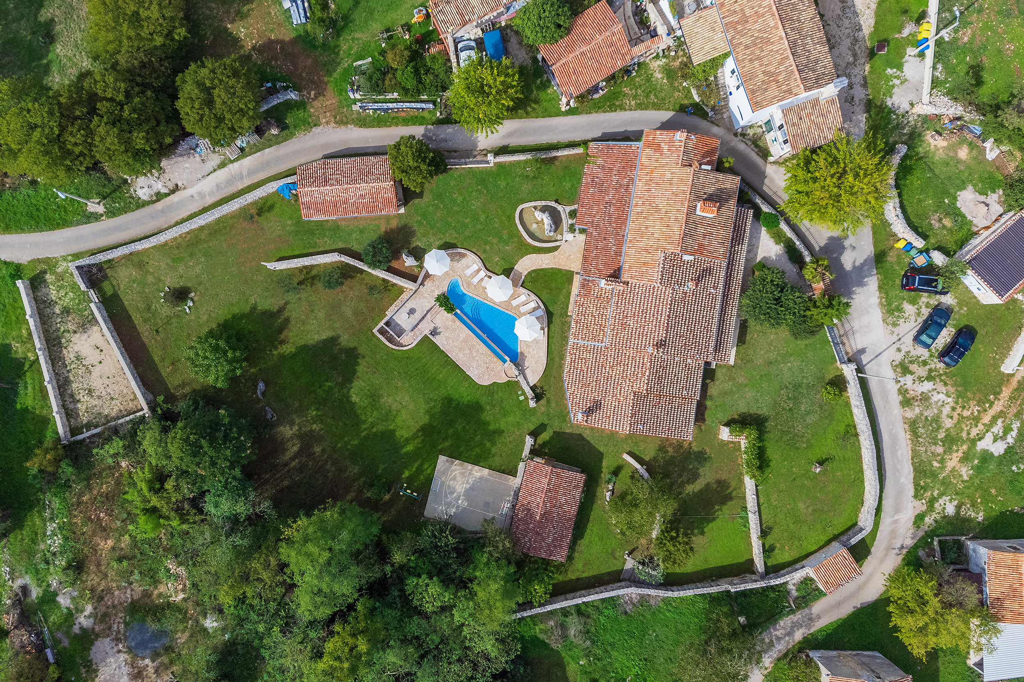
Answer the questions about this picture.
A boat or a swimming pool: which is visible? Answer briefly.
swimming pool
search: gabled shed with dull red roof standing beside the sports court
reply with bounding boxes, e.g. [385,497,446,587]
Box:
[510,453,588,563]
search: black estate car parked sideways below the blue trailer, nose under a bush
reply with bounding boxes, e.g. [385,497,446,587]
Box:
[898,272,947,295]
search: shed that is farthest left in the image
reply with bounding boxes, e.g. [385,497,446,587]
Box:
[295,154,399,221]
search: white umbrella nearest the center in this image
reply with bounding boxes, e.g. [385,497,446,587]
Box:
[513,314,541,342]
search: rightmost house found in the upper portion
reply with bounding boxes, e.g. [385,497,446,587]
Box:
[949,209,1024,304]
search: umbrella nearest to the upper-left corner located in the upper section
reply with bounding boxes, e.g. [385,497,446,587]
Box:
[423,248,451,276]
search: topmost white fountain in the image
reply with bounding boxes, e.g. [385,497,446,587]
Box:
[532,210,555,234]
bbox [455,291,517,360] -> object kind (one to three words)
swimming pool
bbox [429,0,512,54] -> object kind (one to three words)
house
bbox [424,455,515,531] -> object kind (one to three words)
sports court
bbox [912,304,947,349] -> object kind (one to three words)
car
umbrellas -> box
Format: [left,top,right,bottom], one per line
[513,314,541,342]
[486,275,513,302]
[423,248,451,276]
